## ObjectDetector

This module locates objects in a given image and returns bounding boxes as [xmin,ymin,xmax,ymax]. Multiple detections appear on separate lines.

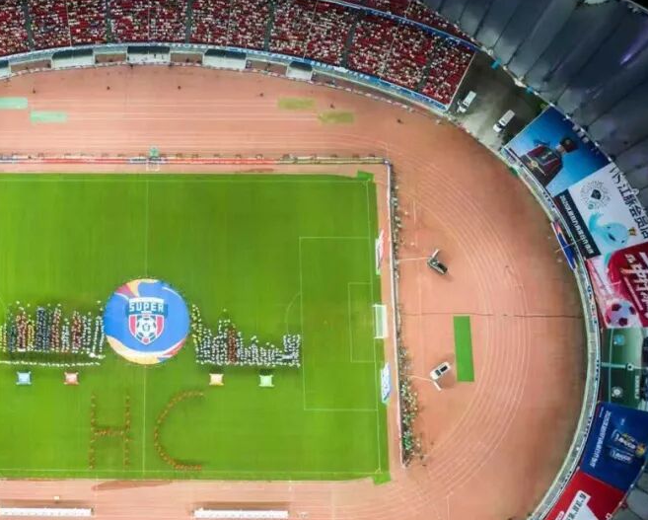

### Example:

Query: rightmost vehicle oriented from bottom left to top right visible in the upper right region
[495,107,518,131]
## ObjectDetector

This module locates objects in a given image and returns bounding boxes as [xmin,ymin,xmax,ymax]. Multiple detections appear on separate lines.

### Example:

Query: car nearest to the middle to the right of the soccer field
[426,254,447,270]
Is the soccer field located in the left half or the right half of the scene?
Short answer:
left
